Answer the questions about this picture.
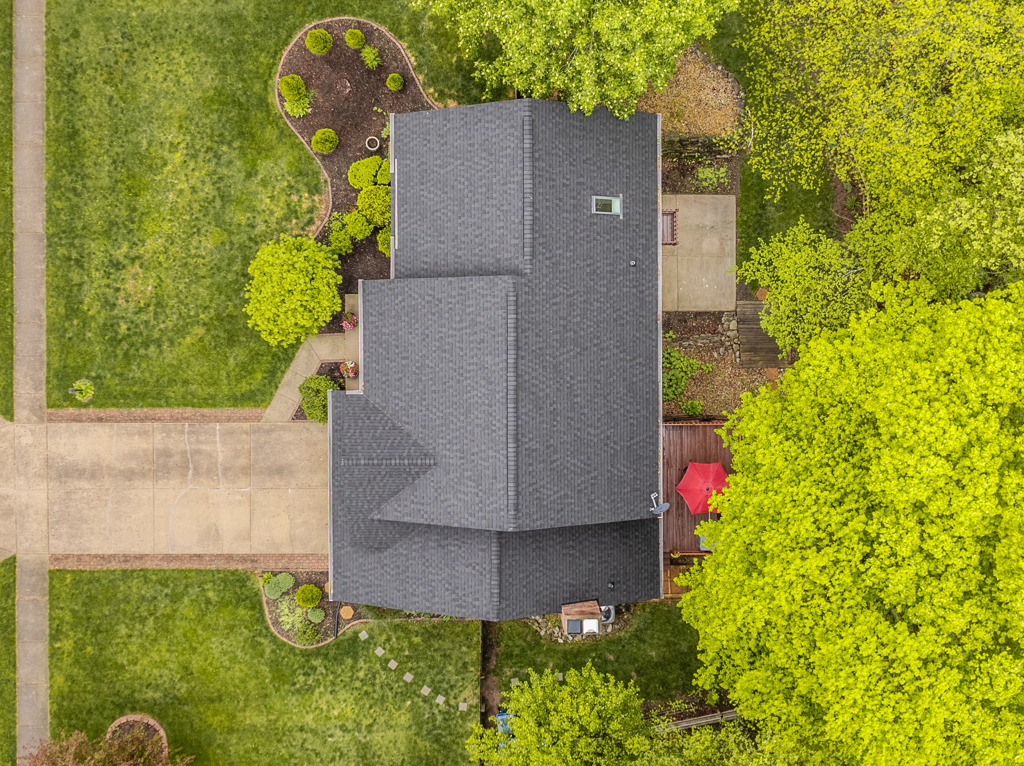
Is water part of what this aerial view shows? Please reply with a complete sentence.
No, there is no water in the image.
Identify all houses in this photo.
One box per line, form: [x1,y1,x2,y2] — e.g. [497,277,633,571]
[329,98,663,635]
